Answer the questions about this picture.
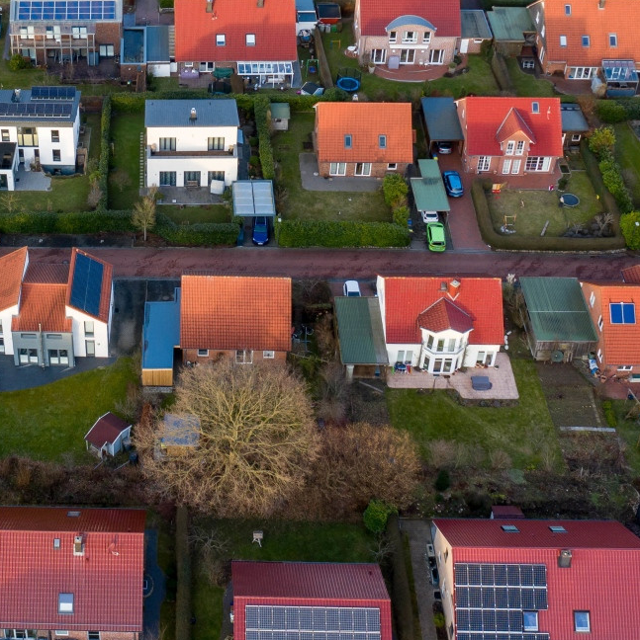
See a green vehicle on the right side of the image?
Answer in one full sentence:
Yes, you'll find a green vehicle on the right side of the image.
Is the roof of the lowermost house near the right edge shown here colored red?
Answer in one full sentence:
Yes, red is the color of the roof of the lowermost house near the right edge.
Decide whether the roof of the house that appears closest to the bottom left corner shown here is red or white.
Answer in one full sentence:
In this view, the roof of the house that appears closest to the bottom left corner is red.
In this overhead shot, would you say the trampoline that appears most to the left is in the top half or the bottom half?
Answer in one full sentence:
The trampoline that appears most to the left sits in the top half of the picture.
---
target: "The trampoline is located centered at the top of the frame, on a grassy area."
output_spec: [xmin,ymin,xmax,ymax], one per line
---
[337,67,361,93]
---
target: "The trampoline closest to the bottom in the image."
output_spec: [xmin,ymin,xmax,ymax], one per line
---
[560,194,580,207]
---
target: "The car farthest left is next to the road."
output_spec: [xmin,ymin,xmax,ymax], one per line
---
[251,219,270,249]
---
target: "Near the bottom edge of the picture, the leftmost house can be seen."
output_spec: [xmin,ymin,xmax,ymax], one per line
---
[0,505,147,640]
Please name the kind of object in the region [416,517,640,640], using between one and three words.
house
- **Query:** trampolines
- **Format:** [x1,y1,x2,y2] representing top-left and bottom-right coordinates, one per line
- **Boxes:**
[337,67,361,93]
[560,194,580,207]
